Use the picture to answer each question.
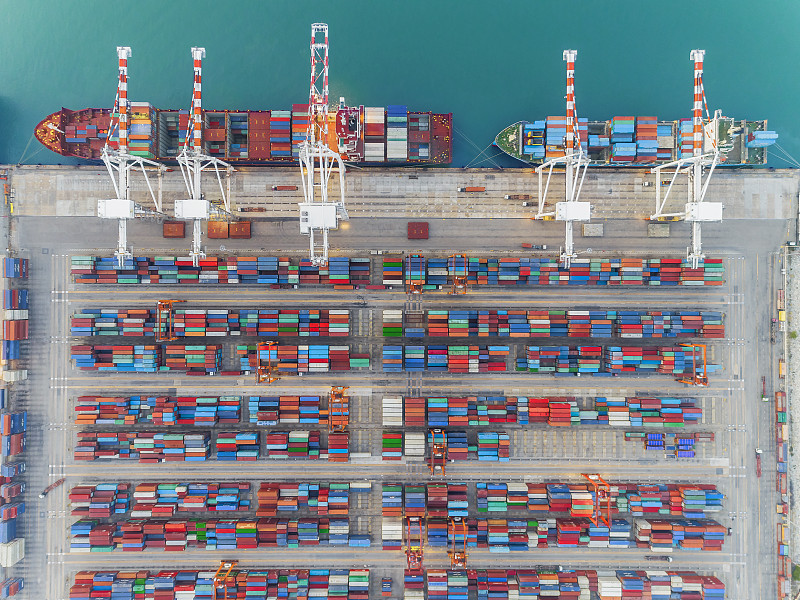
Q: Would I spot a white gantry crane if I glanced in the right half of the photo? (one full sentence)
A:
Yes, a white gantry crane can be seen in the right half of the photo.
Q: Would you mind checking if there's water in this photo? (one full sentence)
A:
Yes, there is water in the image.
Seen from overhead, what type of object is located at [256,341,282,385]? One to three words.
container crane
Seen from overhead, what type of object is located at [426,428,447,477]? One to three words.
container crane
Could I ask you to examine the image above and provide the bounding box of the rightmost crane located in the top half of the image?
[642,46,722,267]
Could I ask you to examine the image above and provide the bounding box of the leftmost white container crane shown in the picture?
[98,46,175,267]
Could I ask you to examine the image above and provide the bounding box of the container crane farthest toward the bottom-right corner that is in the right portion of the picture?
[581,474,609,525]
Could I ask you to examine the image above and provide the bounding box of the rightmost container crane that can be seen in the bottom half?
[673,341,707,388]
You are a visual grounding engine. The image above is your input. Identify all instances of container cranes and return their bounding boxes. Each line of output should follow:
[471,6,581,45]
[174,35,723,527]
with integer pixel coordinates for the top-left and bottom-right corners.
[98,46,175,267]
[404,252,424,298]
[581,474,609,525]
[446,516,468,570]
[447,251,468,294]
[157,299,188,342]
[174,46,242,267]
[642,46,722,267]
[329,386,351,434]
[426,428,447,477]
[404,516,424,570]
[298,23,352,262]
[256,341,282,385]
[213,562,241,600]
[528,46,591,267]
[673,341,707,388]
